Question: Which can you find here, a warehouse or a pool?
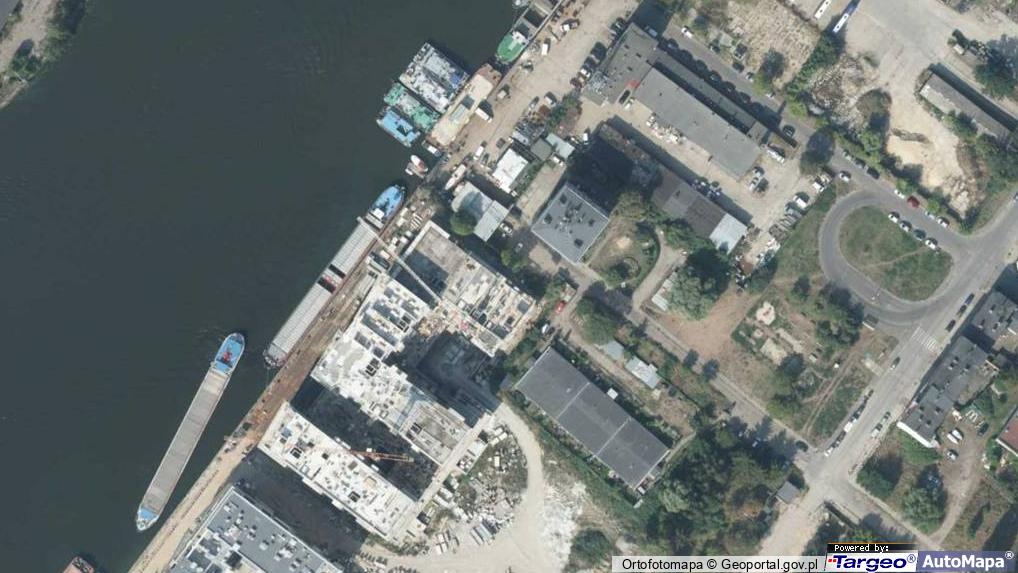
warehouse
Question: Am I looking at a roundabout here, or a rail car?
roundabout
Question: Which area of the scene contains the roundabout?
right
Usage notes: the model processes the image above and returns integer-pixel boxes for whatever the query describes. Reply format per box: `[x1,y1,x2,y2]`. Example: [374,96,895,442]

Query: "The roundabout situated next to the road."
[821,187,974,326]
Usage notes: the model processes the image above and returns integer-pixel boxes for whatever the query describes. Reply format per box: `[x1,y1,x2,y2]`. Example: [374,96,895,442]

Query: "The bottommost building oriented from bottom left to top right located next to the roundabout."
[890,335,989,444]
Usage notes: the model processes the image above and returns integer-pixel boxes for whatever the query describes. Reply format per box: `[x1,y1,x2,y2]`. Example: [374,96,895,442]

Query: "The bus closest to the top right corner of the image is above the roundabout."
[831,0,862,32]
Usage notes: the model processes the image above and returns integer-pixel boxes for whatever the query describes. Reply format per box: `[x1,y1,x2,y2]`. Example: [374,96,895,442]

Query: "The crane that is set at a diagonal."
[357,218,453,316]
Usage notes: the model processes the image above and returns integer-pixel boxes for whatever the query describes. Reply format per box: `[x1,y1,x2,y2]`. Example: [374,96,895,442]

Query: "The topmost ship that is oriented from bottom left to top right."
[496,0,563,60]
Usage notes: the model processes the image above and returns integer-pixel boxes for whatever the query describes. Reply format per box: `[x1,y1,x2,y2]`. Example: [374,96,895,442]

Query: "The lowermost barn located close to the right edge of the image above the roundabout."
[920,73,1018,154]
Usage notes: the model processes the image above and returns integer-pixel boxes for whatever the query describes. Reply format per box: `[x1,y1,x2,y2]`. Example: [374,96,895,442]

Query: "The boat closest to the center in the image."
[446,164,468,190]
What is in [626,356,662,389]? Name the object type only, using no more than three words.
shed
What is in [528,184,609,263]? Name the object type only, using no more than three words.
building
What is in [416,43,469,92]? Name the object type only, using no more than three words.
boat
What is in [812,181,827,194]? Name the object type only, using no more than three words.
vehicle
